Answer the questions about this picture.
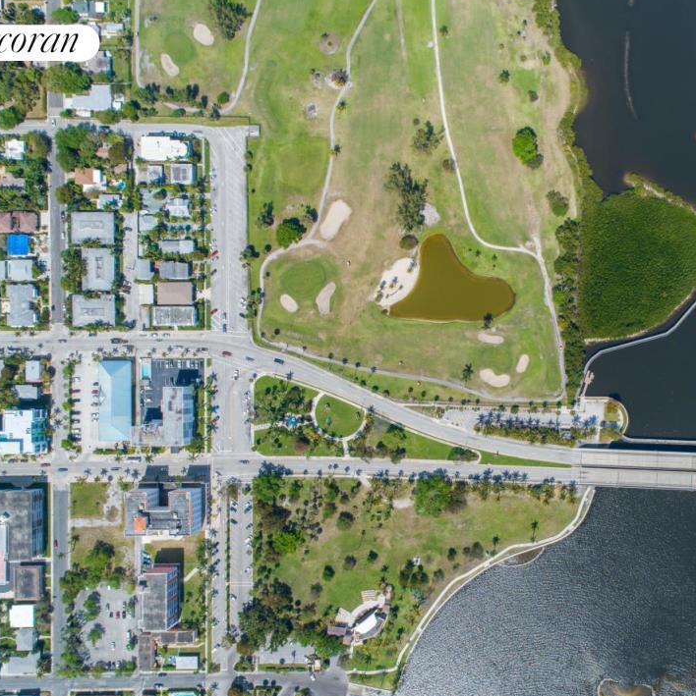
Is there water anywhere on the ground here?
Yes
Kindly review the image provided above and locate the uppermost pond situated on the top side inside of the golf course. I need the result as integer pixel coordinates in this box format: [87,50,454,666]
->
[389,234,515,321]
